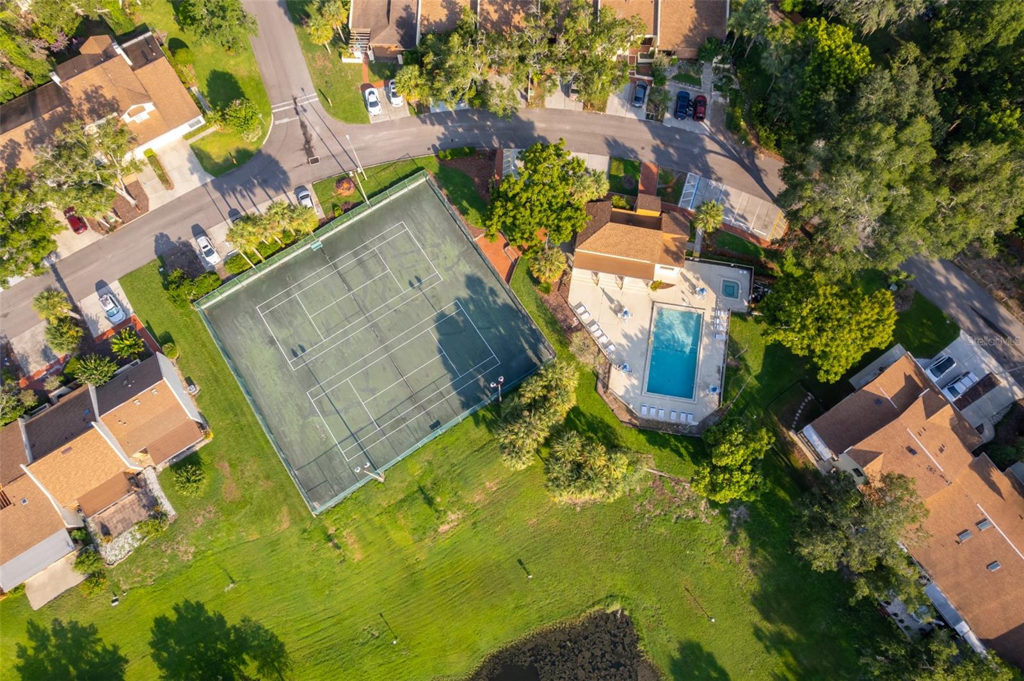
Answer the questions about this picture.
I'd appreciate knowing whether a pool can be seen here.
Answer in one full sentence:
Yes, looking at the shot, I can spot a pool.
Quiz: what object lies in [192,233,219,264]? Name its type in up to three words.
car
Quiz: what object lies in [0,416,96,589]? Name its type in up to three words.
house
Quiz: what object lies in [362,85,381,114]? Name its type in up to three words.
car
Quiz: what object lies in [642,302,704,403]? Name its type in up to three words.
swimming pool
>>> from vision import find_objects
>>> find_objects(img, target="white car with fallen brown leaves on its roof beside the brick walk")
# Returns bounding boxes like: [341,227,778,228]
[95,291,124,323]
